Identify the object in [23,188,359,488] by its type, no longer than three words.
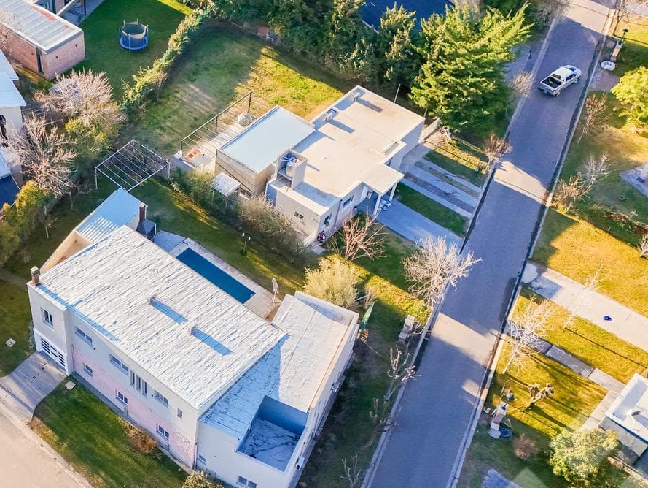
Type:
house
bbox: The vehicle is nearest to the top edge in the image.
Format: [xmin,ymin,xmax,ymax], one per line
[542,70,585,99]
